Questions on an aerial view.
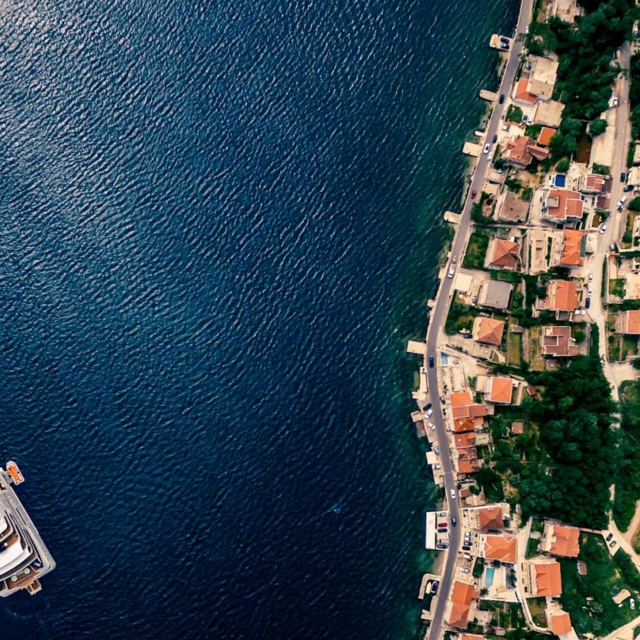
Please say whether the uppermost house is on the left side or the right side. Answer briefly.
right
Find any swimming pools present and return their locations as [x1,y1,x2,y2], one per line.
[484,567,496,588]
[553,173,567,188]
[440,352,449,366]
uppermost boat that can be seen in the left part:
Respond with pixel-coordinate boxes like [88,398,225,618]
[7,461,24,484]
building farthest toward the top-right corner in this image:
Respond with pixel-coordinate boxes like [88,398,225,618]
[549,0,580,26]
